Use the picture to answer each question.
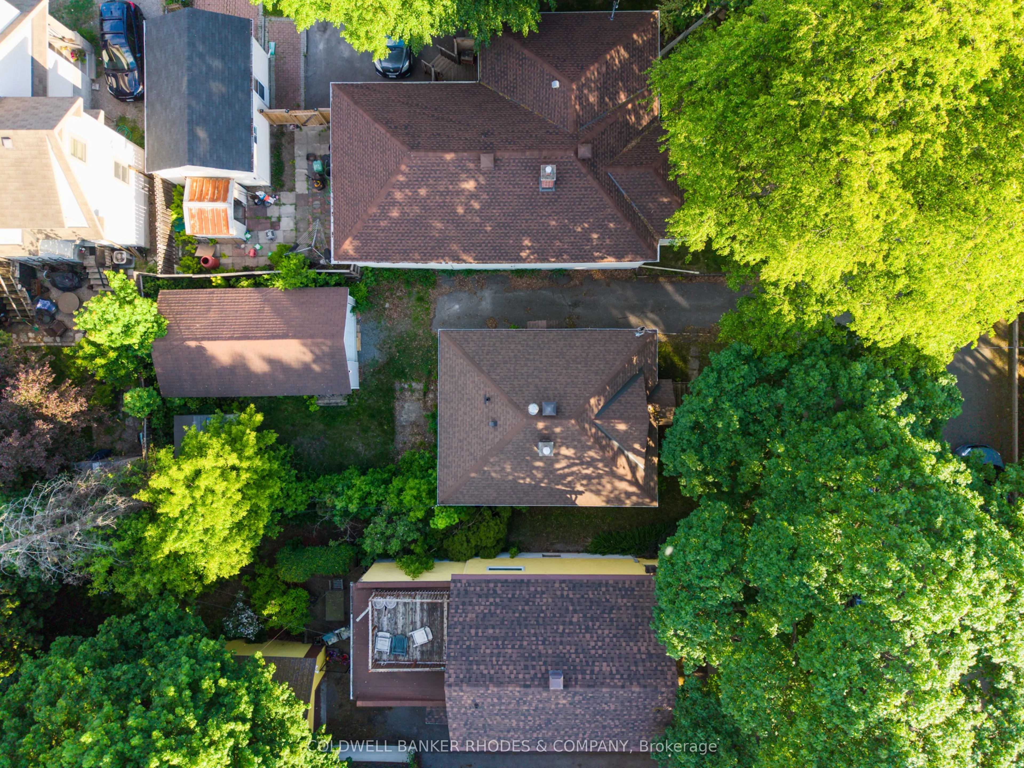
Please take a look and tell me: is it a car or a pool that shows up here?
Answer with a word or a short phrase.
car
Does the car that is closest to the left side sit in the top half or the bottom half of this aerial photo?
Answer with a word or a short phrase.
top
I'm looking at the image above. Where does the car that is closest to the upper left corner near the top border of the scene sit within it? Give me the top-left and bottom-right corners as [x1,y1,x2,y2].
[88,4,141,106]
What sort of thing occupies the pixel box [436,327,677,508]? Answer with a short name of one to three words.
house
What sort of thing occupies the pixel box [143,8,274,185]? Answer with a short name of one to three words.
building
